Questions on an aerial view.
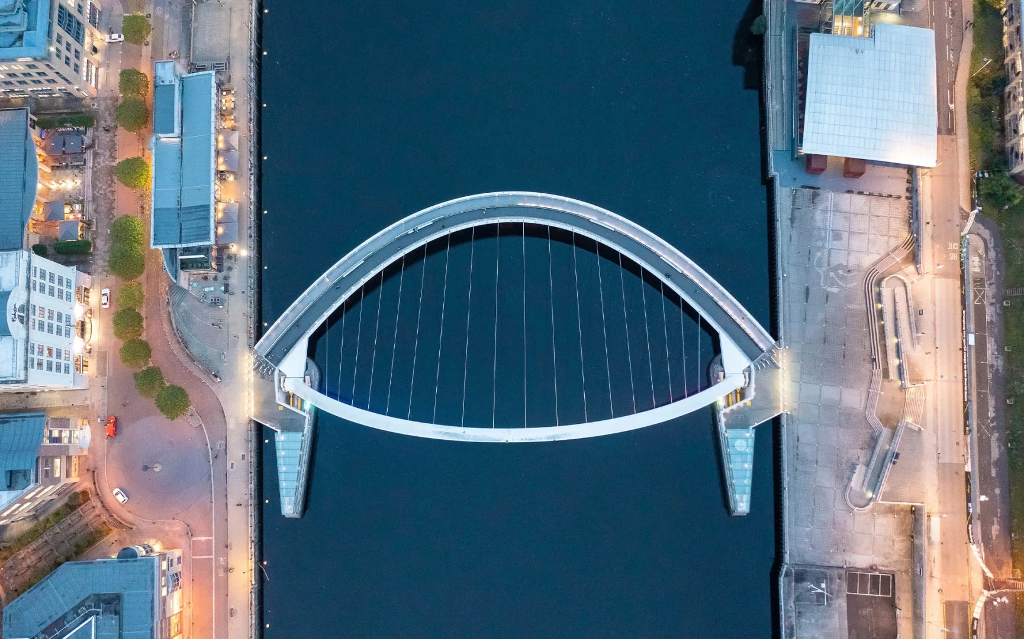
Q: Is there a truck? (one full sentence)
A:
No, there is no truck in the image.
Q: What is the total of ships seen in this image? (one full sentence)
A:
The picture shows no ships.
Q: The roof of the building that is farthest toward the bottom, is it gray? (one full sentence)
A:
No, the color of the roof of the building that is farthest toward the bottom is blue.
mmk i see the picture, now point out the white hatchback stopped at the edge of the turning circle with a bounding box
[111,486,128,506]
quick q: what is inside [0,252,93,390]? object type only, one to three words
building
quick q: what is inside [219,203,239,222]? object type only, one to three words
umbrella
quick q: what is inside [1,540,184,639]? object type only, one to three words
building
